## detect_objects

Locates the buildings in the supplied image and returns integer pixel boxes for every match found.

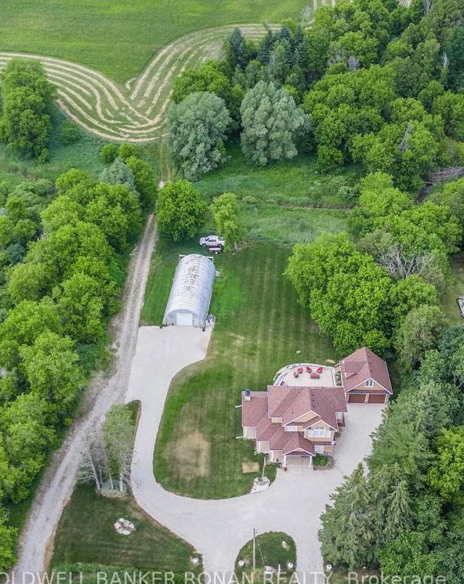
[235,383,347,472]
[162,253,216,325]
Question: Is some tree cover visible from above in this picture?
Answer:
Yes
